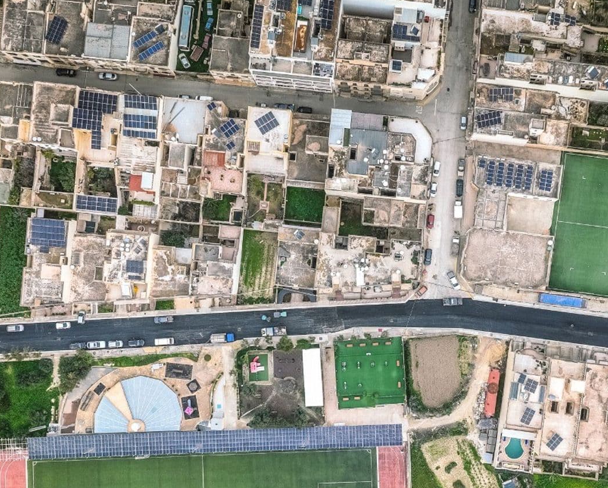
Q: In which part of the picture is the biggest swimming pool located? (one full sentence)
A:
You can find the biggest swimming pool in the bottom right area of the picture.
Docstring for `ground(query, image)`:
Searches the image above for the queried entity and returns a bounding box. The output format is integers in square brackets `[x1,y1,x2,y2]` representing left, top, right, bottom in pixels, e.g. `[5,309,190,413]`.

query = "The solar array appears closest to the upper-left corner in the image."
[48,15,66,42]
